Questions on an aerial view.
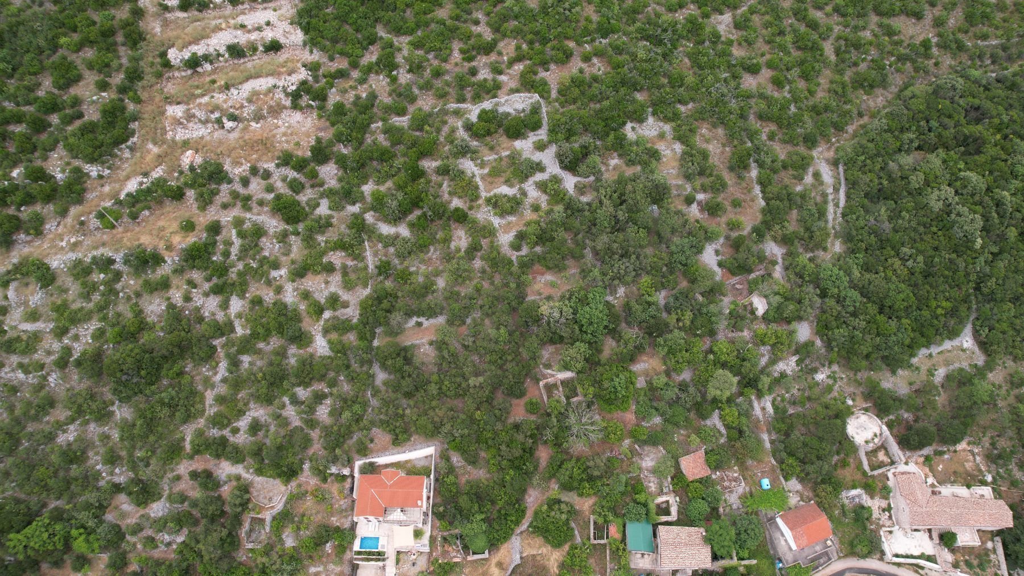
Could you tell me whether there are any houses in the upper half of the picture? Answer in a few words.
No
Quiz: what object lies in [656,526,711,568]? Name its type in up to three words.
house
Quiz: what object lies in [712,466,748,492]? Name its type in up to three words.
shed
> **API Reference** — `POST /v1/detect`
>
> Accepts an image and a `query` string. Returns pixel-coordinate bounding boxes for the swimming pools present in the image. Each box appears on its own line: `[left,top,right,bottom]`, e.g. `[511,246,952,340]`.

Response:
[354,536,388,551]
